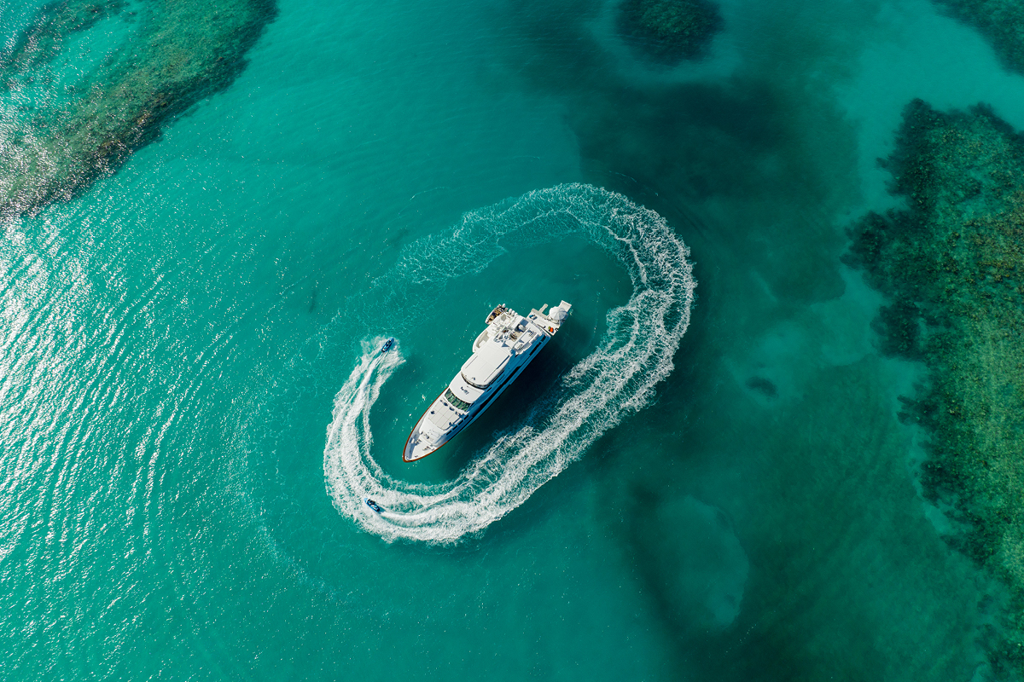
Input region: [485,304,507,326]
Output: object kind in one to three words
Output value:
boat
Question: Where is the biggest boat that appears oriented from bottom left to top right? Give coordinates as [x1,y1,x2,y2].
[402,304,558,467]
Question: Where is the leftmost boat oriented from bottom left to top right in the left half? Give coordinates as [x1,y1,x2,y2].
[379,336,394,353]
